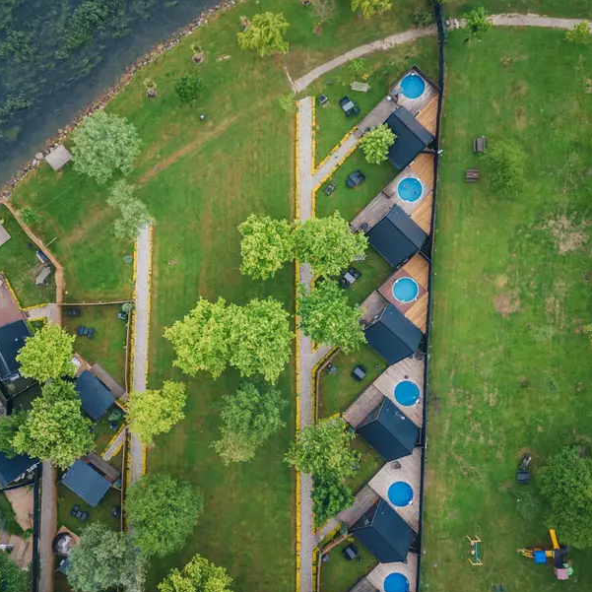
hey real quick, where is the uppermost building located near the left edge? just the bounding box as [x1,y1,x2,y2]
[0,319,30,380]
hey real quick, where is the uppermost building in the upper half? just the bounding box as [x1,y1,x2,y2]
[378,106,435,169]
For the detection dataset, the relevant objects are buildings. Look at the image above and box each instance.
[66,370,117,420]
[359,302,423,365]
[354,398,420,461]
[0,450,38,487]
[378,106,435,169]
[55,557,90,592]
[62,456,112,508]
[366,205,428,267]
[350,499,416,563]
[0,319,30,380]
